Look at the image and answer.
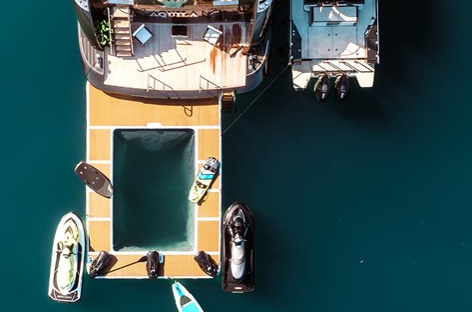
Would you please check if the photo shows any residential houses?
No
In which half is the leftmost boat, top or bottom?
bottom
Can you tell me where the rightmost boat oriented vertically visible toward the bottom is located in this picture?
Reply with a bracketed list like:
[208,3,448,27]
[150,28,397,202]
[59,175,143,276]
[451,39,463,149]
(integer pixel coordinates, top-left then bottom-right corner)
[221,200,255,293]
